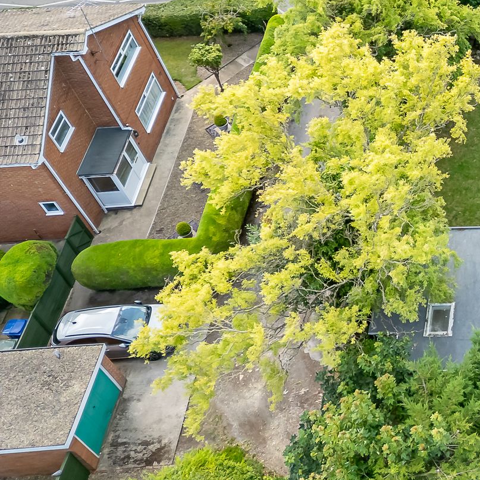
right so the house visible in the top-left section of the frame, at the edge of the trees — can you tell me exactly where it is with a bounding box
[0,0,180,238]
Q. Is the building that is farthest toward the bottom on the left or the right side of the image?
left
